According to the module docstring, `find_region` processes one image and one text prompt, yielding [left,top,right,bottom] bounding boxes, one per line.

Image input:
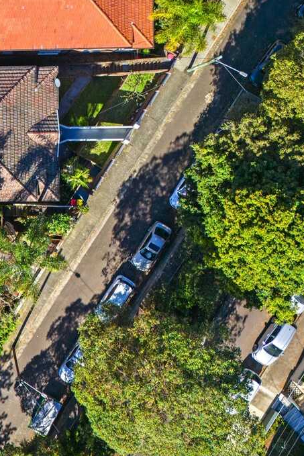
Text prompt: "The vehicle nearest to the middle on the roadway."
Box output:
[131,217,173,274]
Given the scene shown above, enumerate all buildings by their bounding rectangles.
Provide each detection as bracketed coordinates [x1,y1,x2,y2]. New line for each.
[0,0,153,54]
[0,65,64,204]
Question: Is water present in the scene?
No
